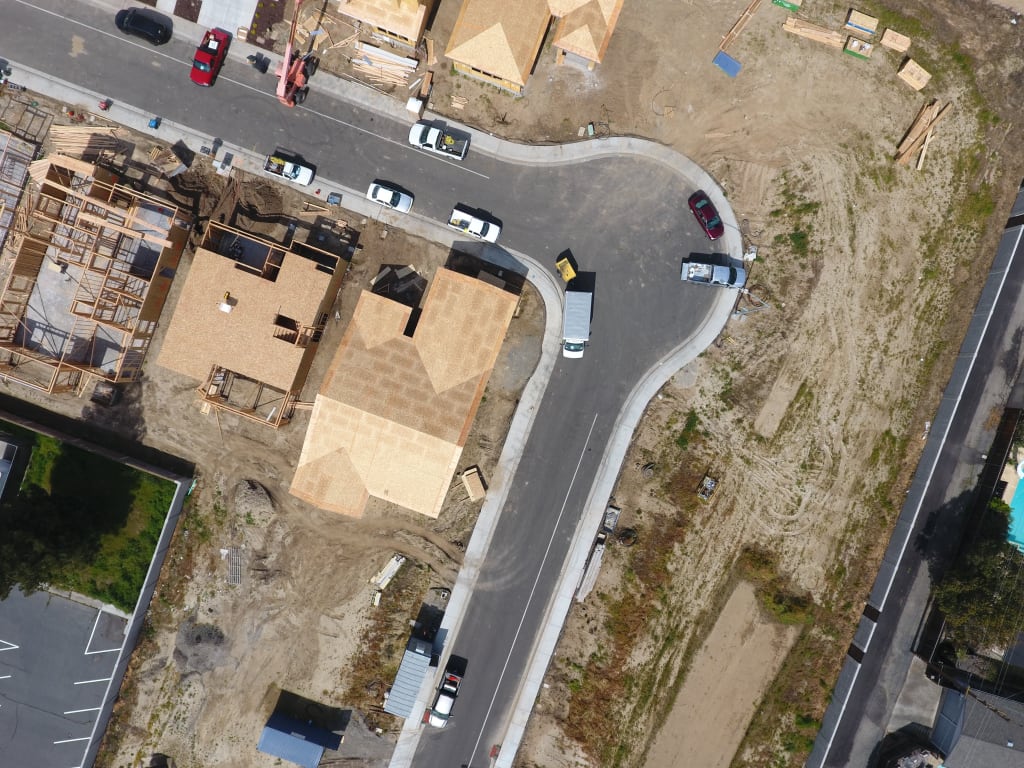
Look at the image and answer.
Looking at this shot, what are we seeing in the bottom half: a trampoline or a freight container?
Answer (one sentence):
Visible in the bottom half is a freight container.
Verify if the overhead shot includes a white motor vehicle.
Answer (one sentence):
Yes, looking at the shot, I can spot a white motor vehicle.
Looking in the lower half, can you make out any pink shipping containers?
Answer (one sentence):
No, looking in the lower half, there is no pink shipping container.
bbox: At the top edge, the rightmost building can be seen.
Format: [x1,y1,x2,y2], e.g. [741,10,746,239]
[553,0,627,73]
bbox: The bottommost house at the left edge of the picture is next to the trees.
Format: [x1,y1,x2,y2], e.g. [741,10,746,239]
[0,435,35,503]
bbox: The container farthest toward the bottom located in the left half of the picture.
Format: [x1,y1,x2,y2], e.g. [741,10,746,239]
[384,640,433,721]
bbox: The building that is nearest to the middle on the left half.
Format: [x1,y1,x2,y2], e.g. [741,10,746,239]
[291,265,517,518]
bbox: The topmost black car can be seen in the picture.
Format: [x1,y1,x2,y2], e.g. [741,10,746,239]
[116,10,172,46]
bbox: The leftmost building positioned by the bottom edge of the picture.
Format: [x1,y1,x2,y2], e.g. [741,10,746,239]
[258,711,346,768]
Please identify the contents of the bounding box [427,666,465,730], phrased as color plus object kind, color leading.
white truck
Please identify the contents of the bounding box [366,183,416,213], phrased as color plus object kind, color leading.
white car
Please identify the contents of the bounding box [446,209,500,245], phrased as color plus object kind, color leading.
white truck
